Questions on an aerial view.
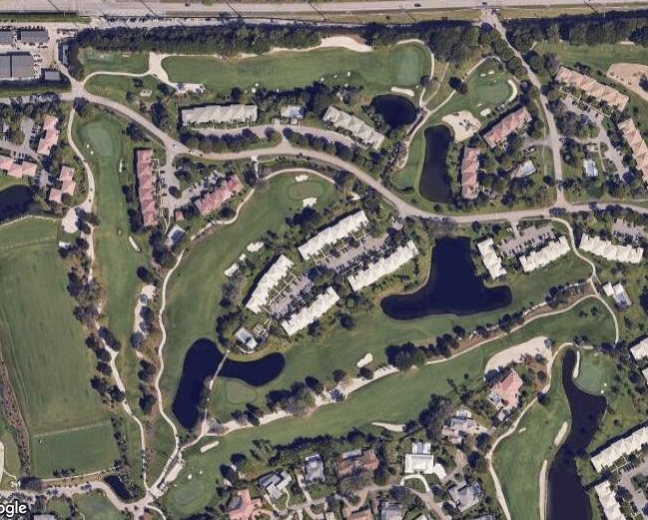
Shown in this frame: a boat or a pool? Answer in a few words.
pool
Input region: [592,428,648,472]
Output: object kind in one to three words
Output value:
building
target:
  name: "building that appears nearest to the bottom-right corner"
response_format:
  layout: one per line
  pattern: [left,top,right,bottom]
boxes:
[595,482,627,520]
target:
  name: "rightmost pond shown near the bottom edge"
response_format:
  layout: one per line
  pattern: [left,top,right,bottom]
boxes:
[547,349,607,520]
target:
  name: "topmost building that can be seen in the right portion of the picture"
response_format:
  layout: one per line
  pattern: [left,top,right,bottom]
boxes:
[557,67,628,113]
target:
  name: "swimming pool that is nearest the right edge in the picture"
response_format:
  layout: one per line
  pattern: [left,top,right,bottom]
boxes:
[614,293,631,312]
